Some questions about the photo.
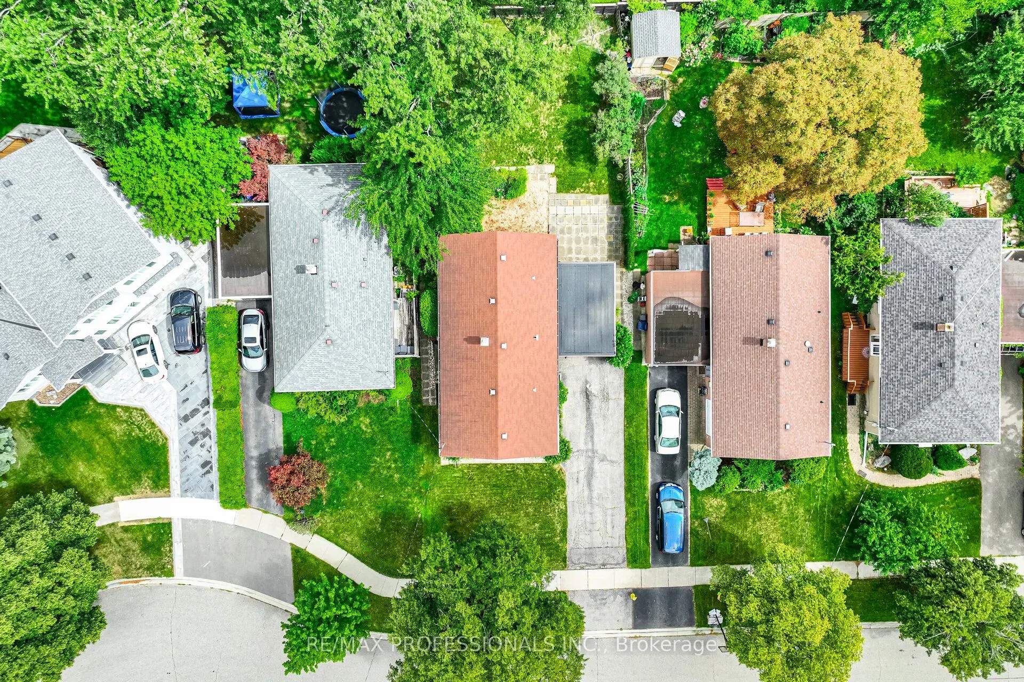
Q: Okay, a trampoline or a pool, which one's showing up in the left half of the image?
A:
trampoline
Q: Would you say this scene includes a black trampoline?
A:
Yes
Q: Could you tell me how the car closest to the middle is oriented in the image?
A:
up and down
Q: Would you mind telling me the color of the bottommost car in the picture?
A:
blue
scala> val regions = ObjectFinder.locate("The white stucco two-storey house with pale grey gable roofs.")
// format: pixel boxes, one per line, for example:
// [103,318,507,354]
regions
[0,128,193,409]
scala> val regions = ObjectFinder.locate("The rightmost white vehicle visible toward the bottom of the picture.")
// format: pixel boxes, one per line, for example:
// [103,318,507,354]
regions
[654,388,685,455]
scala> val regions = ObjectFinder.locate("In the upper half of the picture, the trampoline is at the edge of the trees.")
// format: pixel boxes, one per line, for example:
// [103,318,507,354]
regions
[318,78,367,138]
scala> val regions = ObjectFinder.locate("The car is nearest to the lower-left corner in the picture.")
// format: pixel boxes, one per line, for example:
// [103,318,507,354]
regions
[122,317,167,384]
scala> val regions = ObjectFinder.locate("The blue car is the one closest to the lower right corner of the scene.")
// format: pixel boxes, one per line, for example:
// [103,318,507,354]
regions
[655,482,688,555]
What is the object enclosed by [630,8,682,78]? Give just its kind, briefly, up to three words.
shed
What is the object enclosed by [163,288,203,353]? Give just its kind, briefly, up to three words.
car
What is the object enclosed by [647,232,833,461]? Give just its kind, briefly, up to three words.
house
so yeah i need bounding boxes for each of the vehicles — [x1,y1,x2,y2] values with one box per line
[122,317,167,384]
[655,482,688,555]
[163,288,203,353]
[234,308,267,372]
[654,388,685,455]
